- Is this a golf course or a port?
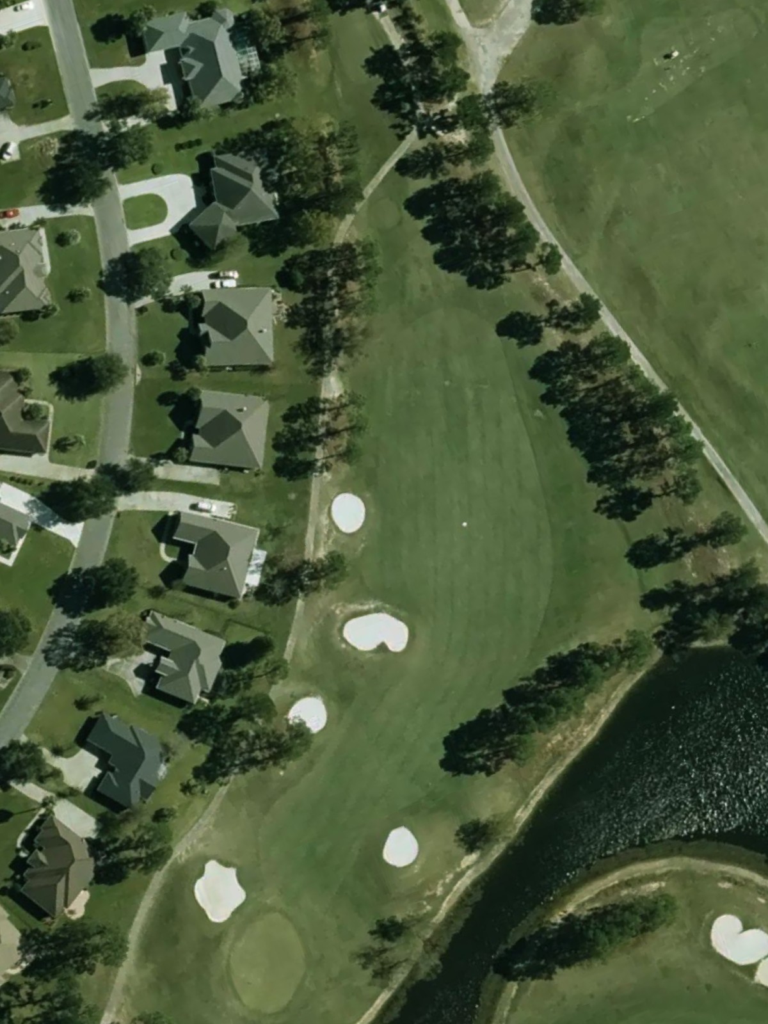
golf course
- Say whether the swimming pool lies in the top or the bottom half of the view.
top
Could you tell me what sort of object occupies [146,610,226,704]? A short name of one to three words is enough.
house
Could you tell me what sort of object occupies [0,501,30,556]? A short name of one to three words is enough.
house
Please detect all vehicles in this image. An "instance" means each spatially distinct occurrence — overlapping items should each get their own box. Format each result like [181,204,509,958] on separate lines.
[220,271,239,279]
[378,4,387,14]
[17,1,36,12]
[197,502,217,512]
[0,209,19,219]
[216,279,236,288]
[668,50,679,58]
[0,141,17,160]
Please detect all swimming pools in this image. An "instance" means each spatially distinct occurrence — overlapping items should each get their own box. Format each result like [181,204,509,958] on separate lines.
[233,32,255,54]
